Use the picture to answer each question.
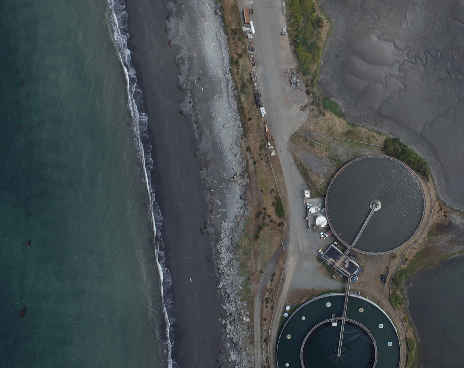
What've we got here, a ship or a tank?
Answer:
tank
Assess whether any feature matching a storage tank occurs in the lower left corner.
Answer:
No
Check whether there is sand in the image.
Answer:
Yes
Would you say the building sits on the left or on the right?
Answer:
right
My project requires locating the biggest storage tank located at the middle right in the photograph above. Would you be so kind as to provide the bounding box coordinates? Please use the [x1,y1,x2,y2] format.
[326,155,425,256]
